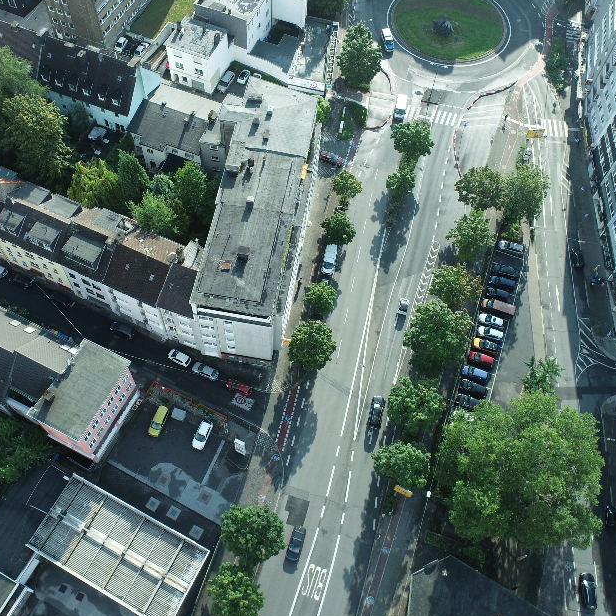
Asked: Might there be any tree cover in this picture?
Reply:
Yes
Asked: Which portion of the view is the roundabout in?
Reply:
top right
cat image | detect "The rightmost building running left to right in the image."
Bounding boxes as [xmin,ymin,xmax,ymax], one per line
[403,554,555,616]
